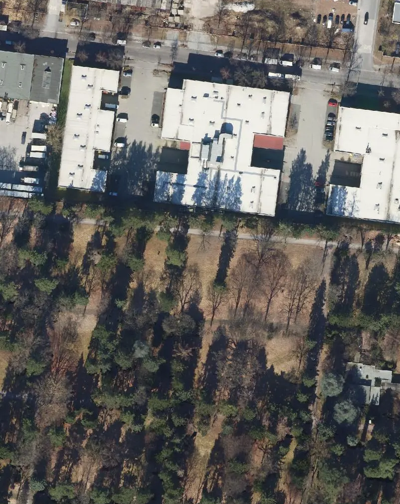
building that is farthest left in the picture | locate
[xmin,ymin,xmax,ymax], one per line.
[0,50,65,104]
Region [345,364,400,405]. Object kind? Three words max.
house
